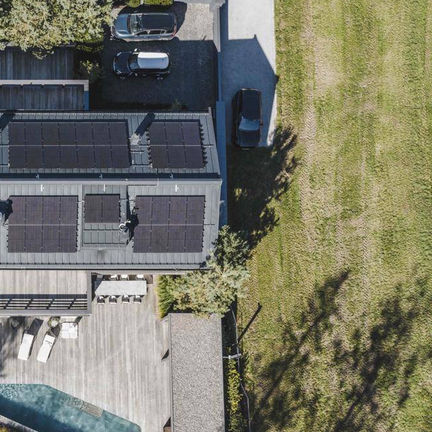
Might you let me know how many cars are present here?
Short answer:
3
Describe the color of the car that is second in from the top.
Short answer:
black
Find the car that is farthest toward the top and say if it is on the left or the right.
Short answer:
left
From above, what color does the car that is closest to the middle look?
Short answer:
black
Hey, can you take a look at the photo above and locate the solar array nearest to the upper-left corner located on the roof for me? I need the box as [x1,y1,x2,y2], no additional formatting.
[7,122,131,169]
